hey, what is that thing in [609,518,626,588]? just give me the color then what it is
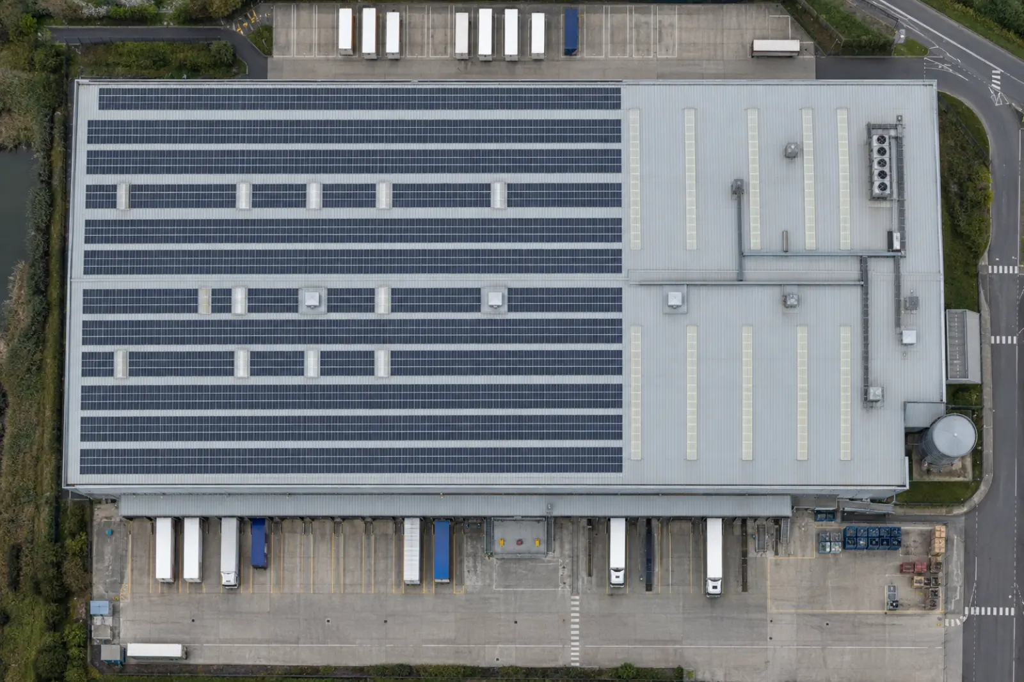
white vehicle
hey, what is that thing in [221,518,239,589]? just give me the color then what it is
white vehicle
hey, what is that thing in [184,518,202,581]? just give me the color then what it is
white trailer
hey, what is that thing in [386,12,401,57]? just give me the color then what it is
white trailer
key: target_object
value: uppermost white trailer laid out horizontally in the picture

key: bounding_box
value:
[752,39,800,56]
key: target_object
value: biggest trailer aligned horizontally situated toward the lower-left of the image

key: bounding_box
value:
[127,644,189,659]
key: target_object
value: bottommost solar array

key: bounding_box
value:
[80,449,622,474]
